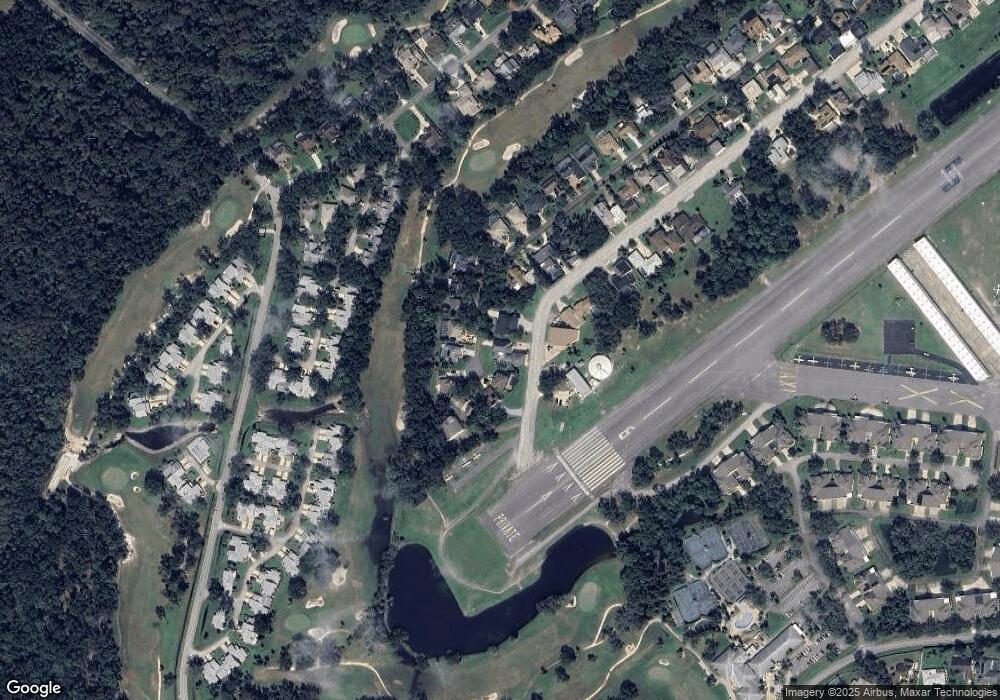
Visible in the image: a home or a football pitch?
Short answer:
home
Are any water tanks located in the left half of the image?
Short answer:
No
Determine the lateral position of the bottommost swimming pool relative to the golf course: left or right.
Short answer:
to the right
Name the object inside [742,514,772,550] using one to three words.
tennis court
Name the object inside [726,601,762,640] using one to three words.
swimming pool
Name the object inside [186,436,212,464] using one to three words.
building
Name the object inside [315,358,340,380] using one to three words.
house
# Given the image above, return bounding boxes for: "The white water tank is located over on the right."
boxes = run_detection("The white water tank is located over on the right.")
[588,355,612,380]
